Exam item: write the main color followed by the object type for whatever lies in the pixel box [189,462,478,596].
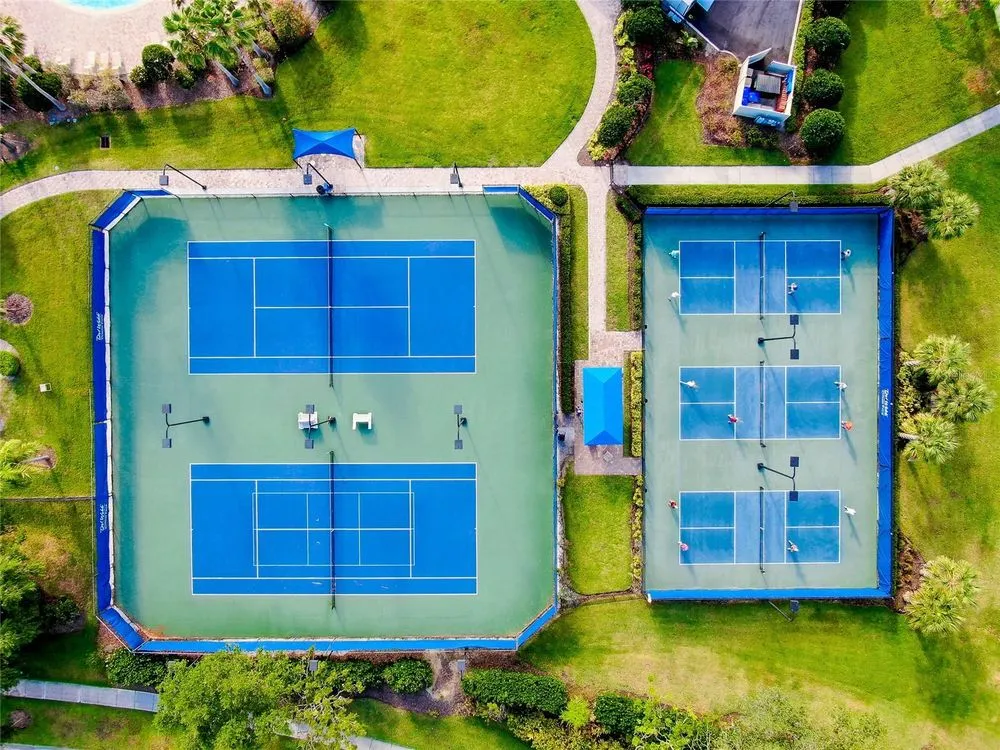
blue tennis court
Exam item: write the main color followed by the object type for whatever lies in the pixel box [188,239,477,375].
blue tennis court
